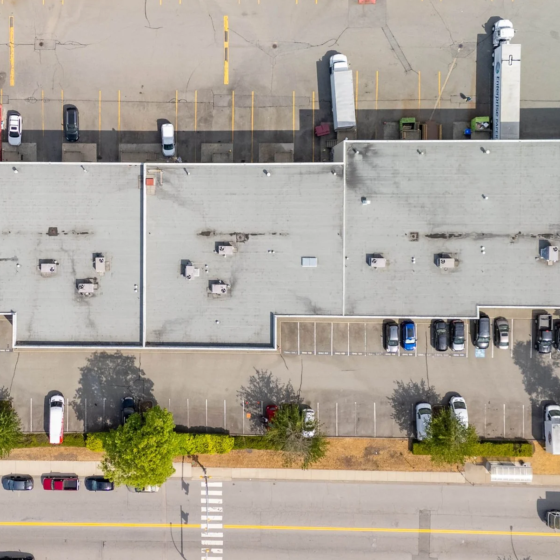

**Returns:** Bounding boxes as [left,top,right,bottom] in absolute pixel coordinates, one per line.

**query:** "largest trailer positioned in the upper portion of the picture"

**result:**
[491,44,520,139]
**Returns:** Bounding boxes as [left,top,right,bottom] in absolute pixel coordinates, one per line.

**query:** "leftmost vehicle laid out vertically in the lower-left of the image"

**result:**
[50,396,67,443]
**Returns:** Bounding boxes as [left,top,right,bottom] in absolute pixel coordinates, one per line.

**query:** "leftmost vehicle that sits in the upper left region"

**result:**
[7,112,24,149]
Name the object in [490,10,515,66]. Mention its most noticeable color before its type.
white truck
